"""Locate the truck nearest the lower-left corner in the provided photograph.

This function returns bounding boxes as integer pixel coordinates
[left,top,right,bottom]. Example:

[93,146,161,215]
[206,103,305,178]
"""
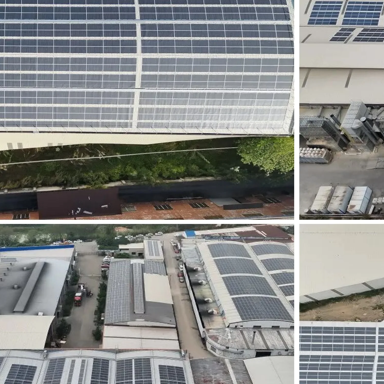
[73,278,101,305]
